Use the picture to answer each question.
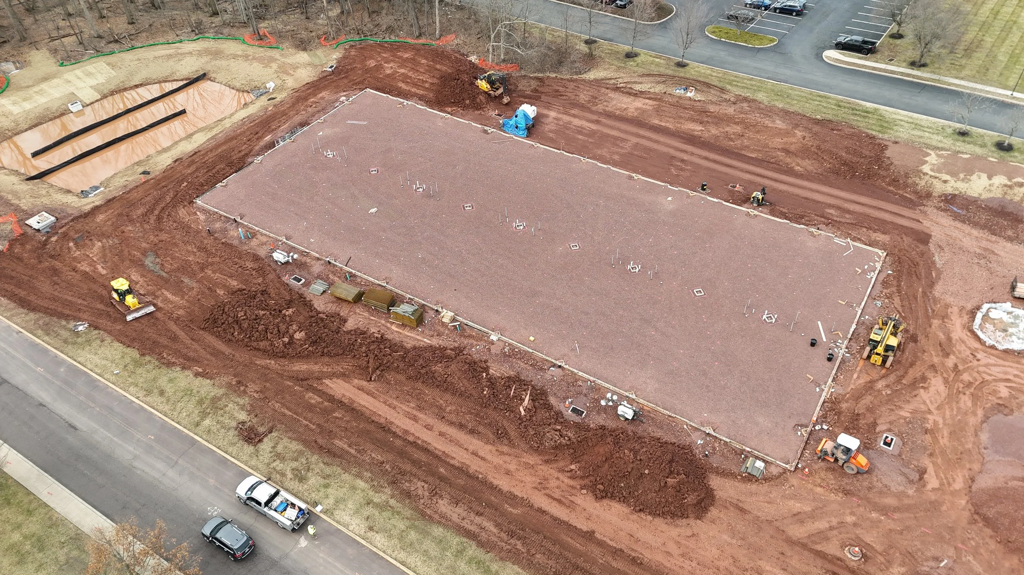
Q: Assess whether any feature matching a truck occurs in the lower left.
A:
Yes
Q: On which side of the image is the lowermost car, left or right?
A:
left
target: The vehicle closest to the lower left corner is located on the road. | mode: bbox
[198,513,255,561]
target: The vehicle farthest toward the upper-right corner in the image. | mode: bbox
[833,34,877,53]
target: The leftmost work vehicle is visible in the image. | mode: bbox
[117,277,160,320]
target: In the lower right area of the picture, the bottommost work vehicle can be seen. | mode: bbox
[812,429,875,477]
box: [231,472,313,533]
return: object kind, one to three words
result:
truck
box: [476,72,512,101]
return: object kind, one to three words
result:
work vehicle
